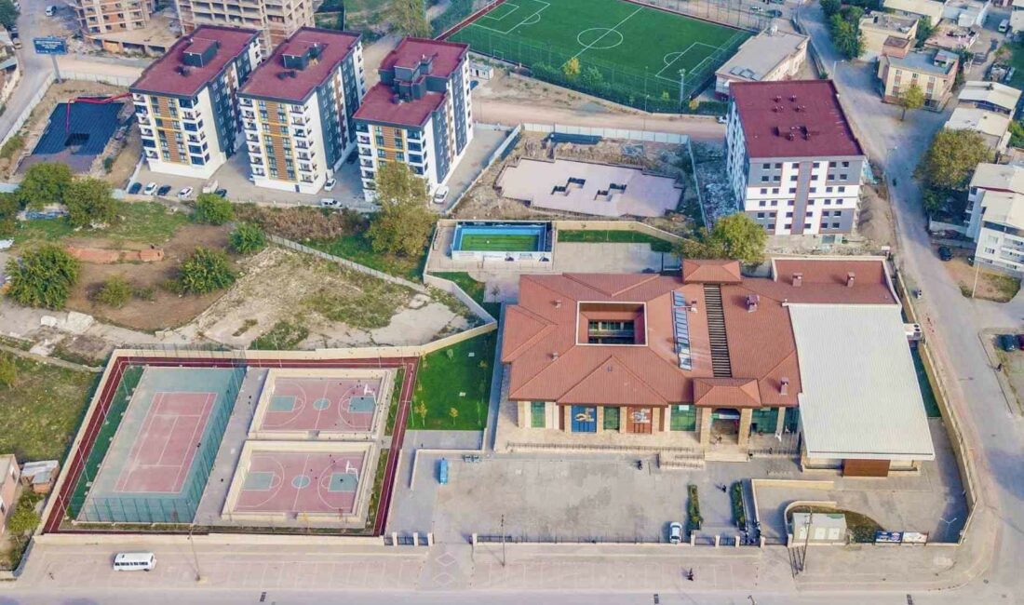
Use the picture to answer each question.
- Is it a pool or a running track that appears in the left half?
running track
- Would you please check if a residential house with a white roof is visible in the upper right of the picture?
Yes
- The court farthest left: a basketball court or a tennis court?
tennis court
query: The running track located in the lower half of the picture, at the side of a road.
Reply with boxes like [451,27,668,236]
[41,355,420,539]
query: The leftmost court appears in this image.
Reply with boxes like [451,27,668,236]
[79,367,244,521]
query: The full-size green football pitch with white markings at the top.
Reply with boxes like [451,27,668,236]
[454,0,757,105]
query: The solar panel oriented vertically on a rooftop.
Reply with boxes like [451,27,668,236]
[675,289,692,370]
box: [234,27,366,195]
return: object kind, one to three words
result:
building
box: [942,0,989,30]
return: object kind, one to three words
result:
house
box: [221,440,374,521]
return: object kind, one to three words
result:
basketball court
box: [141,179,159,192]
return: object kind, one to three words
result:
vehicle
